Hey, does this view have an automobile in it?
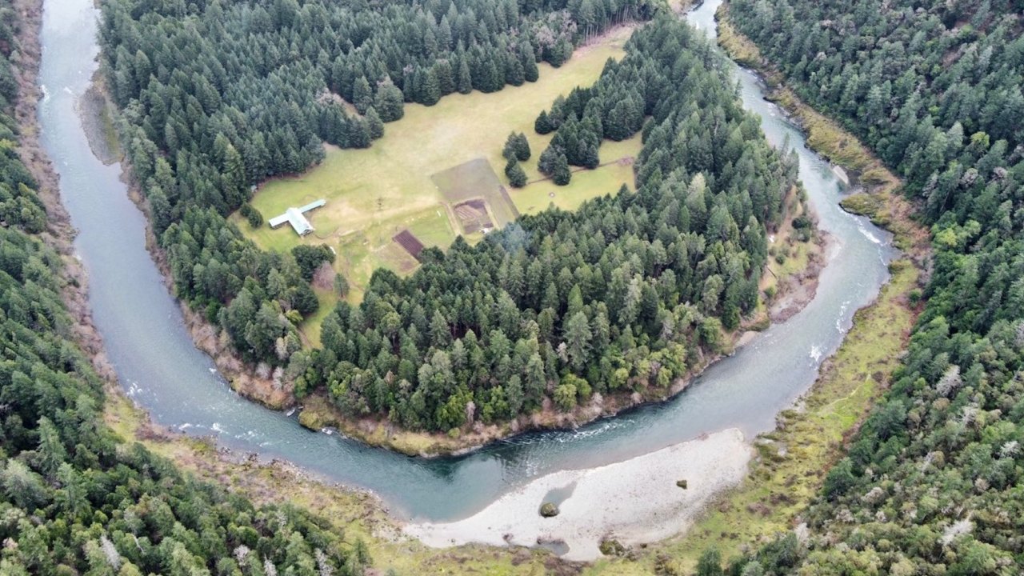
No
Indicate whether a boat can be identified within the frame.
No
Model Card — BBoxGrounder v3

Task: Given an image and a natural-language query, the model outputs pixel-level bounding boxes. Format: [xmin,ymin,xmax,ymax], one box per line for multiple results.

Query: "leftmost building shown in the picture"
[269,204,328,241]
